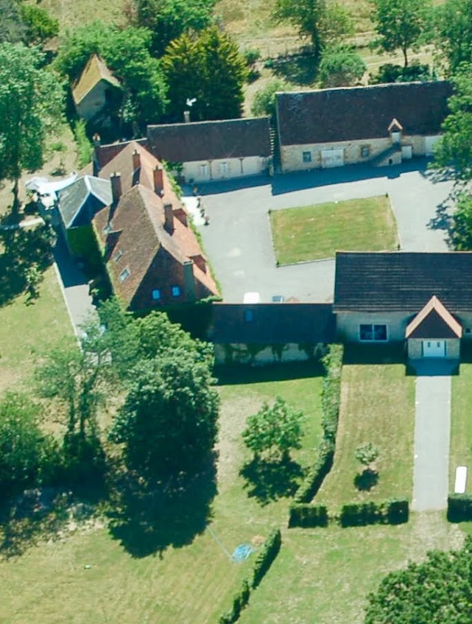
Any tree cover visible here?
Yes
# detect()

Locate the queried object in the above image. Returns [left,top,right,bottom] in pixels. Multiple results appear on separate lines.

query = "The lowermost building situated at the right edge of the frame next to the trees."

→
[334,249,472,358]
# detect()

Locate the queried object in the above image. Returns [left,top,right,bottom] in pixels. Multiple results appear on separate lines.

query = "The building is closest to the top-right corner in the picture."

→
[274,81,456,175]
